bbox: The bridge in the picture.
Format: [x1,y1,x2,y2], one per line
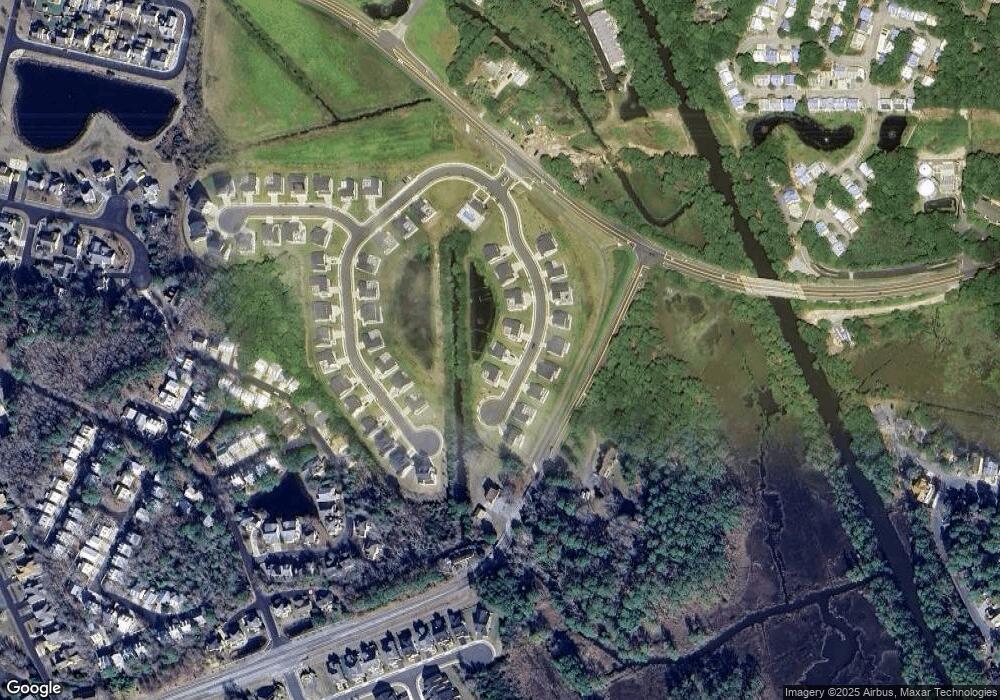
[740,276,807,300]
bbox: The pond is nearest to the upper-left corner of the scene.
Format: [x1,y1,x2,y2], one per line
[14,59,180,153]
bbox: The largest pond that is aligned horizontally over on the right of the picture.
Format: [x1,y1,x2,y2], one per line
[747,112,854,150]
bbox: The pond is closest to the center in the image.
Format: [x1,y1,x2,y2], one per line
[468,261,495,361]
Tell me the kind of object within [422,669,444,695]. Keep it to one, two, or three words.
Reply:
house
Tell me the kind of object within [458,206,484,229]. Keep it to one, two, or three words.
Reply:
swimming pool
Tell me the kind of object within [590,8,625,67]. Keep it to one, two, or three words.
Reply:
building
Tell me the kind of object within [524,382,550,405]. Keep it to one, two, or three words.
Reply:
house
